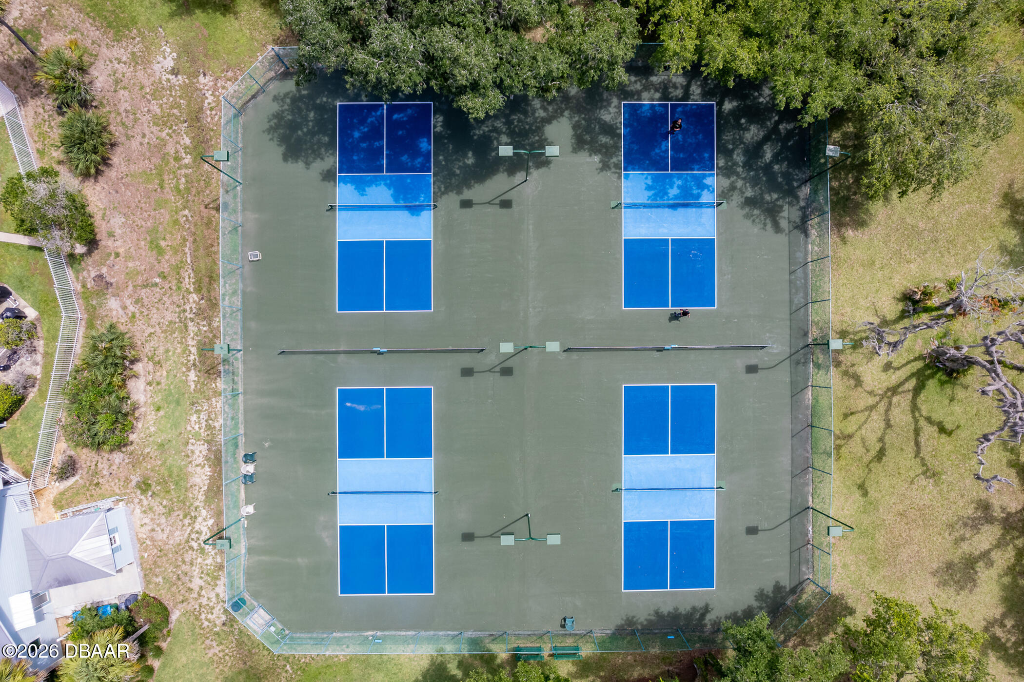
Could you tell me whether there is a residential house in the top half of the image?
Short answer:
No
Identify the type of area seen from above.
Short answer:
sports ground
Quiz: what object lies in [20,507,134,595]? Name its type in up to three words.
house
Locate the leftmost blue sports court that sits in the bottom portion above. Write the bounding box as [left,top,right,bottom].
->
[337,387,434,595]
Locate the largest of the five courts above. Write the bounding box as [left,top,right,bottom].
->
[237,71,813,636]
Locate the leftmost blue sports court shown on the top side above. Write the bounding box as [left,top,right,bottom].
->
[337,102,433,312]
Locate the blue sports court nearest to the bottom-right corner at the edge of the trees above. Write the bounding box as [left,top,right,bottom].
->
[612,384,725,591]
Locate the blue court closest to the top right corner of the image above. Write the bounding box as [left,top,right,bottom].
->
[611,102,727,309]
